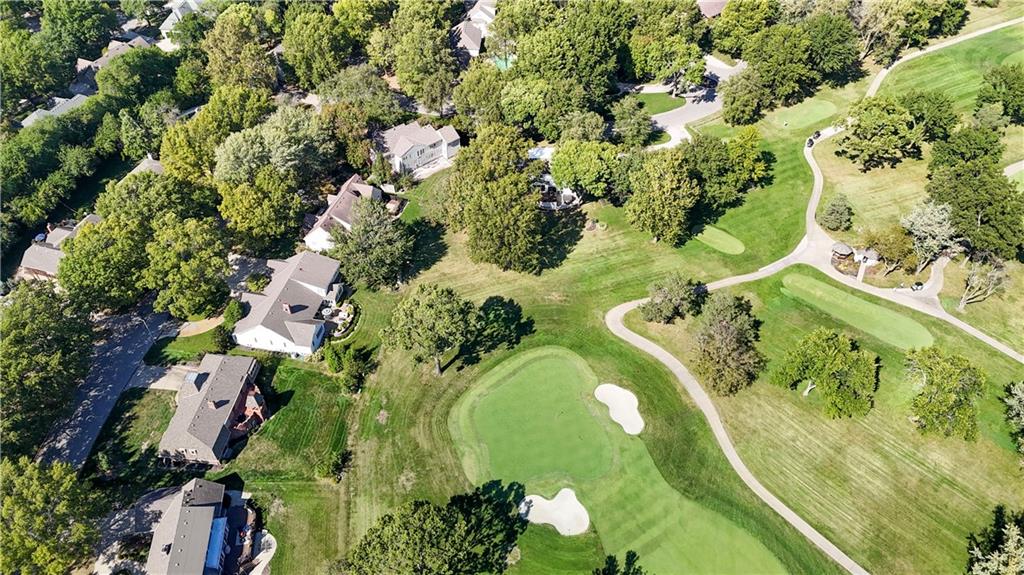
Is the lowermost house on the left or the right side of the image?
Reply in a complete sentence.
The lowermost house sits on the left side.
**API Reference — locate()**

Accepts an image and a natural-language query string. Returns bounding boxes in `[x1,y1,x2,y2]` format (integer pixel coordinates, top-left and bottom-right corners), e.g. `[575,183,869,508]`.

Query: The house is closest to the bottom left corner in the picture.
[142,479,232,575]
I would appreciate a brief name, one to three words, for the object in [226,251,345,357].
house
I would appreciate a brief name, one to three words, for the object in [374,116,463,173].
house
